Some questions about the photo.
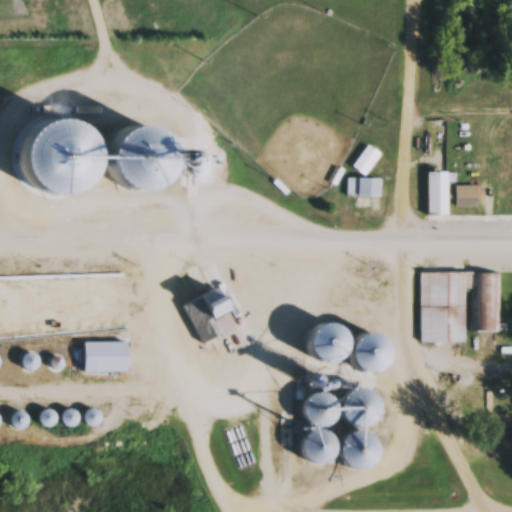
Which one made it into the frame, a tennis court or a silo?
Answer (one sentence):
This aerial view contains a silo.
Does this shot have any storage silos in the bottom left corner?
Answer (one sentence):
Yes, a storage silo can be seen in the bottom left corner.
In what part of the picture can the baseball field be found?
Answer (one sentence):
You can find the baseball field in the top area of the picture.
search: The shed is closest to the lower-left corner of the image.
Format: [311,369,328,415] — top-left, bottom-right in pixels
[84,342,130,372]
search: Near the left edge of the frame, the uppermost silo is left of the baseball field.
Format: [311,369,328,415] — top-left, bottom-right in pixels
[14,113,109,201]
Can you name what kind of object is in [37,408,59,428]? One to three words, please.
silo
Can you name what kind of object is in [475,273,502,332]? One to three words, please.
shed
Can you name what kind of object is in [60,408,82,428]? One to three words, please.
silo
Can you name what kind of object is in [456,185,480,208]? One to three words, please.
house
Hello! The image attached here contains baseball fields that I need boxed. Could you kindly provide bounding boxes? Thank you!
[172,0,400,201]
